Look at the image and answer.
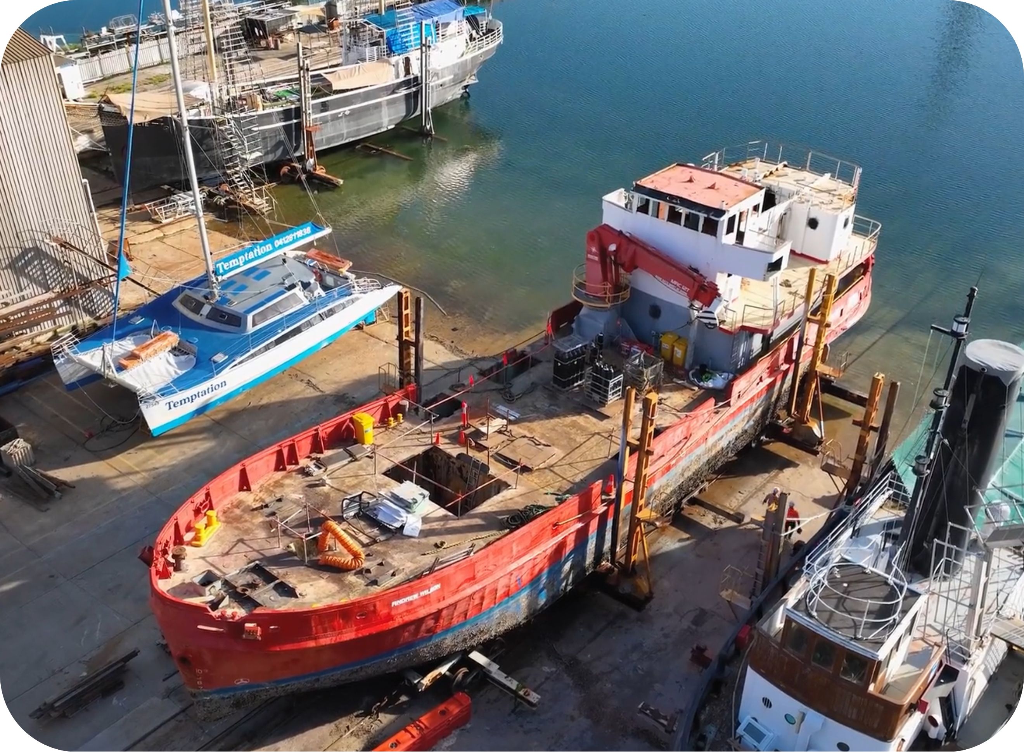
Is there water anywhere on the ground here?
Yes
